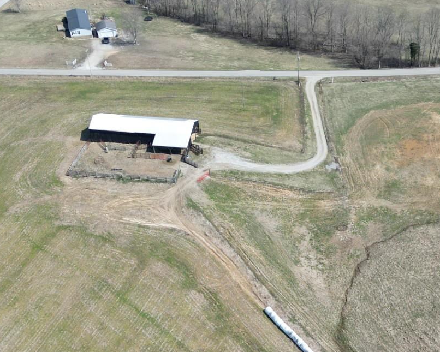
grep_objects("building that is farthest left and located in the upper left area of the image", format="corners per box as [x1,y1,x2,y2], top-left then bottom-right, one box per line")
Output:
[65,6,93,41]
